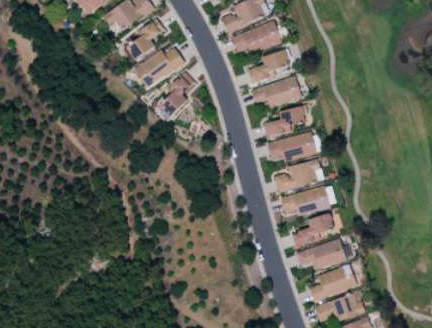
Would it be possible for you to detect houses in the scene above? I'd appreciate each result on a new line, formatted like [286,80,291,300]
[222,0,270,34]
[105,0,156,34]
[76,0,104,14]
[264,104,307,138]
[292,212,335,247]
[315,290,364,322]
[267,132,321,160]
[126,16,166,60]
[248,48,290,82]
[296,239,353,270]
[274,160,325,192]
[231,22,280,54]
[130,46,185,88]
[310,265,358,302]
[156,71,196,120]
[281,186,336,216]
[251,76,302,107]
